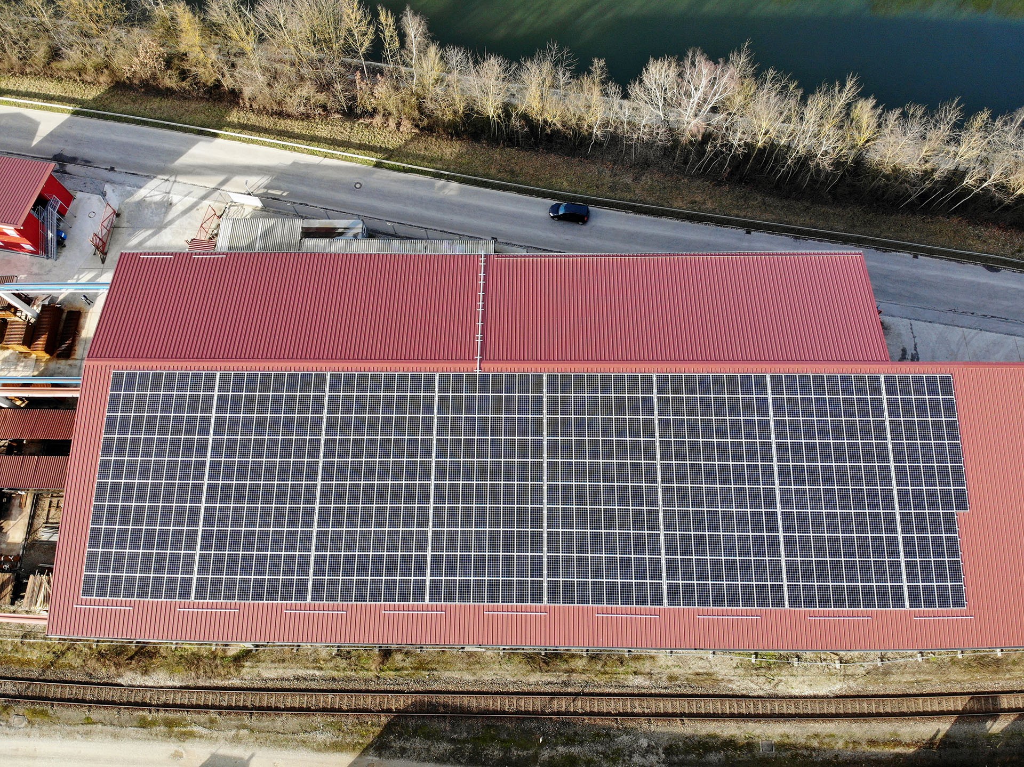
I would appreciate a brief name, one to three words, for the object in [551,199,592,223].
car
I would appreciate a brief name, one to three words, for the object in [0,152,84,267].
building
